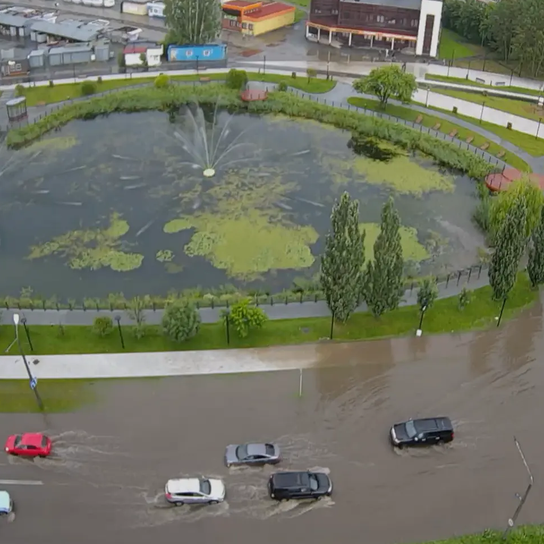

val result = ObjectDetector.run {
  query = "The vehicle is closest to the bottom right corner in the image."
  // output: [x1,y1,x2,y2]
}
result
[393,412,457,447]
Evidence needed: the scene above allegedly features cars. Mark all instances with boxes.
[165,476,224,506]
[393,412,457,447]
[225,442,280,468]
[1,434,54,459]
[0,492,17,520]
[270,469,330,499]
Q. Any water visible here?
Yes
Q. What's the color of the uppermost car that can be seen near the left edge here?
red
